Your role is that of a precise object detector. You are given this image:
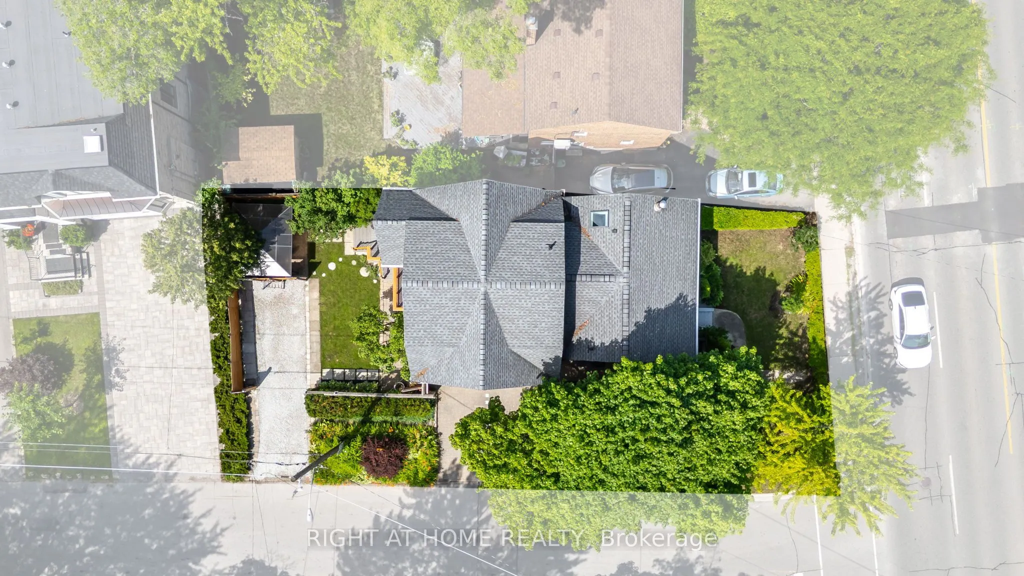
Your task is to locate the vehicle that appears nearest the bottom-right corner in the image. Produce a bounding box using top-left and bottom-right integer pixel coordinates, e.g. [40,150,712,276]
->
[888,282,938,371]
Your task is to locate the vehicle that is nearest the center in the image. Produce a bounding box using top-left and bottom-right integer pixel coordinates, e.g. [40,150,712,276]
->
[584,154,677,196]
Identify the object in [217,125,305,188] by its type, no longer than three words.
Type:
shed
